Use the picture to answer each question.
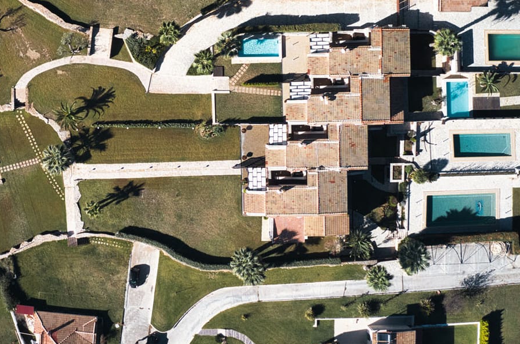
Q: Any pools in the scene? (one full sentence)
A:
Yes, the image includes a pool.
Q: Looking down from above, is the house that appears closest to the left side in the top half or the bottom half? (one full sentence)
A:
You can find the house that appears closest to the left side in the bottom half.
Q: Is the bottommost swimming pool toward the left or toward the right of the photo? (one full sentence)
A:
It is on the right.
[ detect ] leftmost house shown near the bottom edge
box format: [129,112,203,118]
[34,309,98,344]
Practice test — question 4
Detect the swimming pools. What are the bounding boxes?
[424,190,500,233]
[451,130,516,161]
[485,30,520,64]
[445,79,472,120]
[239,35,283,59]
